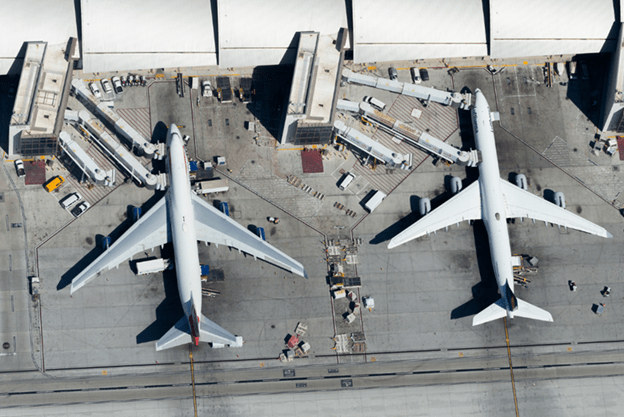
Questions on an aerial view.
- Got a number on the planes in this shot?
two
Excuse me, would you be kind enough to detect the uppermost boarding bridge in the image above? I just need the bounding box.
[340,68,471,121]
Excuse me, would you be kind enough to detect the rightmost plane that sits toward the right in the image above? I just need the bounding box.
[392,90,614,325]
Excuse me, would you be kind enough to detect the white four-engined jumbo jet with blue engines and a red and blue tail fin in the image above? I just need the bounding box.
[69,124,308,351]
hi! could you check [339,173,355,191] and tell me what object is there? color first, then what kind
white vehicle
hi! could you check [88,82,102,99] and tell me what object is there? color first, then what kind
white car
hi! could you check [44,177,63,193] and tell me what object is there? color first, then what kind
orange vehicle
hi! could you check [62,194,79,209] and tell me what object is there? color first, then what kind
white vehicle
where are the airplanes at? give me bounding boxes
[69,124,308,351]
[392,90,614,325]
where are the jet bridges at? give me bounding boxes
[337,99,476,180]
[340,68,471,121]
[62,133,121,207]
[63,110,162,203]
[332,119,411,182]
[72,82,160,169]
